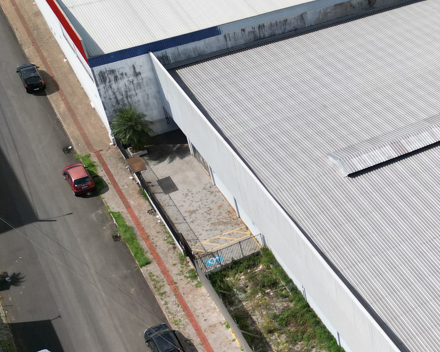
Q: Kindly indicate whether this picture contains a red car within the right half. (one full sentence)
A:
No, no red car can be made out within the right half.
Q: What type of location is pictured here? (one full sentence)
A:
The picture captures an industrial area.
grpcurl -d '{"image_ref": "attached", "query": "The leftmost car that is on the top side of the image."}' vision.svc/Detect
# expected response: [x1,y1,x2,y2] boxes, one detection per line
[18,68,47,91]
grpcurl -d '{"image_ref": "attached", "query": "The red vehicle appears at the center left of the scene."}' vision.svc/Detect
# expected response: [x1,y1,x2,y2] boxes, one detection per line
[61,163,95,195]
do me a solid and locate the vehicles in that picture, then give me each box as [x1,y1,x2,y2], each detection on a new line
[18,68,47,91]
[143,326,182,352]
[61,163,95,195]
